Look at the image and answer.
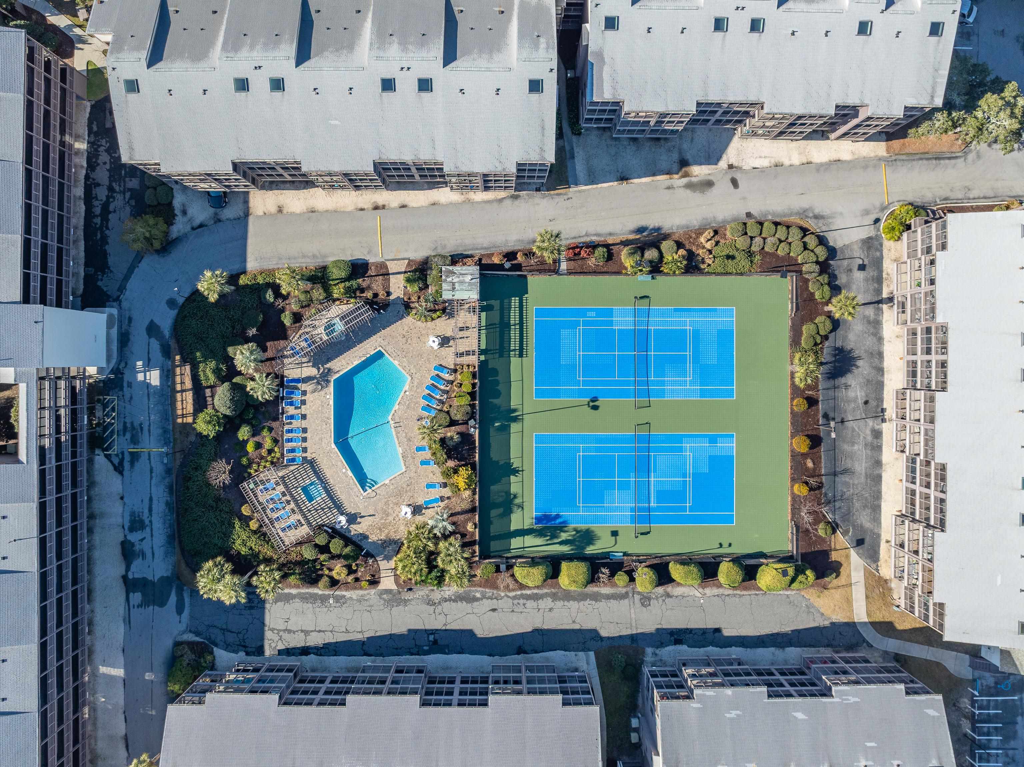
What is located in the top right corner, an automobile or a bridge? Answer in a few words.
automobile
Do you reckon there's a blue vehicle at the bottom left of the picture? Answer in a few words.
No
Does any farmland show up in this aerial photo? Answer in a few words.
No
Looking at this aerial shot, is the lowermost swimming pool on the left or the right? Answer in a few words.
left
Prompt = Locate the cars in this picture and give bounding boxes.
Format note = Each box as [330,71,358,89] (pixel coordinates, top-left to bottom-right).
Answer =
[955,1,983,24]
[207,191,228,209]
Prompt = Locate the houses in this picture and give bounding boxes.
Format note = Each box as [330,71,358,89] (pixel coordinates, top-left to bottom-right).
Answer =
[84,0,556,191]
[162,660,601,767]
[631,652,952,767]
[890,211,1024,647]
[577,0,959,141]
[0,27,108,767]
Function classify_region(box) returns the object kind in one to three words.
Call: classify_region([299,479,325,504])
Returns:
swimming pool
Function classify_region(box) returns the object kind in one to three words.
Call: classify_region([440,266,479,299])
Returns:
shed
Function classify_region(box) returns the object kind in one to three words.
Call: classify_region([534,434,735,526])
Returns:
tennis court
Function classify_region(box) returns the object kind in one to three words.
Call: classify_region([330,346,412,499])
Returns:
swimming pool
